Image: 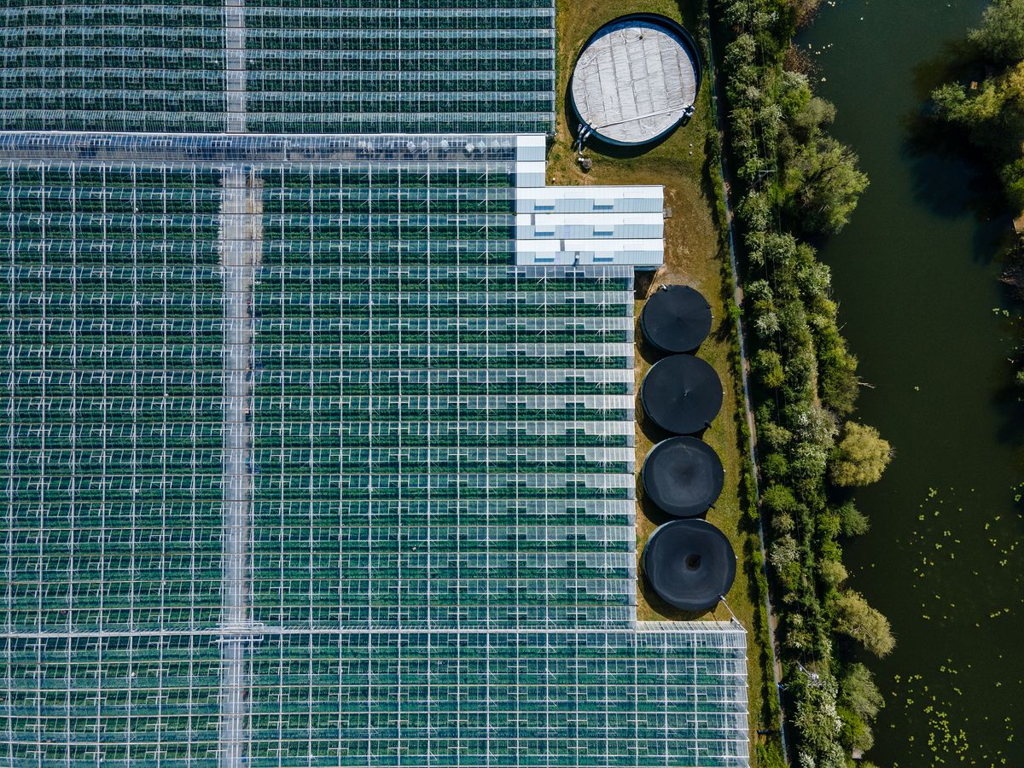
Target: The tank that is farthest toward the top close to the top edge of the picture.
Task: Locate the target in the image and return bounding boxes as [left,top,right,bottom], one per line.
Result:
[570,15,702,152]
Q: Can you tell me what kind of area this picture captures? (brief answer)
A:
industrial area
